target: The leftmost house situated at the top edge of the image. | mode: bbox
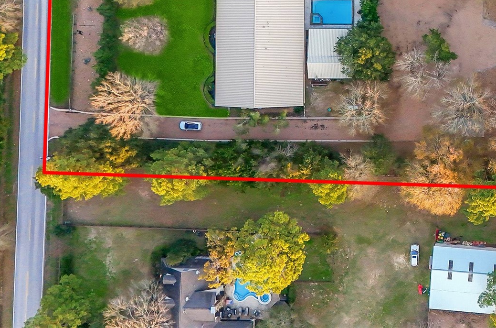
[215,0,305,107]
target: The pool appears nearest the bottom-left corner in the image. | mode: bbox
[231,283,258,303]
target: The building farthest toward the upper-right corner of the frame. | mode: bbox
[306,29,353,78]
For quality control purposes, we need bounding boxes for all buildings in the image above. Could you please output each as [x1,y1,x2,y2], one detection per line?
[429,240,496,315]
[306,29,353,78]
[215,0,305,107]
[159,258,254,328]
